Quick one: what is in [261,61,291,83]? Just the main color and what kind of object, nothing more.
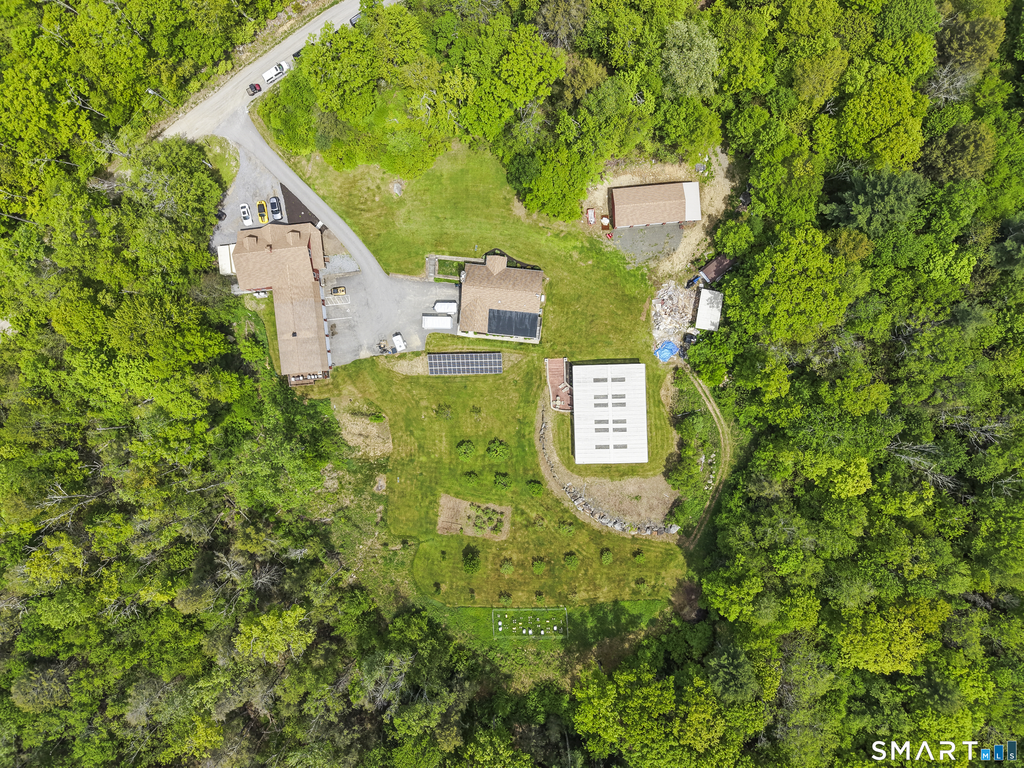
white truck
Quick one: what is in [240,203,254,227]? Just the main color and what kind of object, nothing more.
white car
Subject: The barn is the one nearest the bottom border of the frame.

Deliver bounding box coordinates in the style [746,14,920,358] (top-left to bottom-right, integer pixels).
[567,364,649,464]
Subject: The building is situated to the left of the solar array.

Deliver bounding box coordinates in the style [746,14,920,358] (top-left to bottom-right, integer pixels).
[232,223,330,386]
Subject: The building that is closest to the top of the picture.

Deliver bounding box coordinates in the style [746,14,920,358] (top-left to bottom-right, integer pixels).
[612,182,701,229]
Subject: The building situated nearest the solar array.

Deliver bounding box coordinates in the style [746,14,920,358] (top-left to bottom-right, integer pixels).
[459,255,543,339]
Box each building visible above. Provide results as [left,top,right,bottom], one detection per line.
[612,182,701,229]
[693,289,723,331]
[567,364,649,464]
[699,253,734,284]
[232,223,330,386]
[459,255,543,339]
